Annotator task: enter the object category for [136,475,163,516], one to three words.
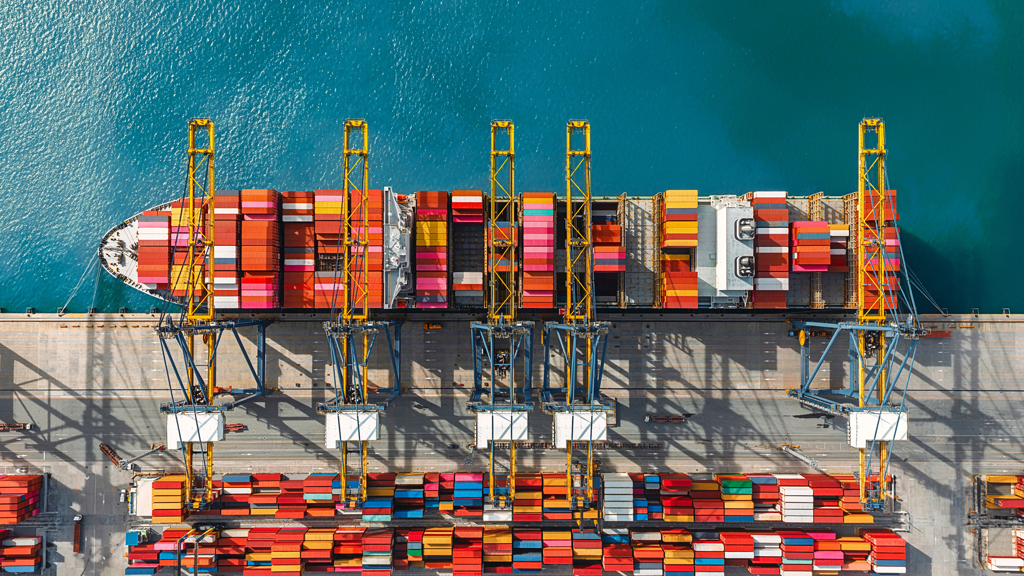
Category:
building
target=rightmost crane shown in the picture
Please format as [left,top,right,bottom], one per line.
[778,116,926,508]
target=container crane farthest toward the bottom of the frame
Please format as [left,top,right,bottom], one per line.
[175,524,219,576]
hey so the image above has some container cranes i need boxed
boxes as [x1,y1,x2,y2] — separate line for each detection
[317,117,415,508]
[465,116,538,508]
[175,524,219,576]
[537,117,614,508]
[778,116,926,508]
[152,116,286,508]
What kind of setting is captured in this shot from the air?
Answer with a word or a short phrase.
port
